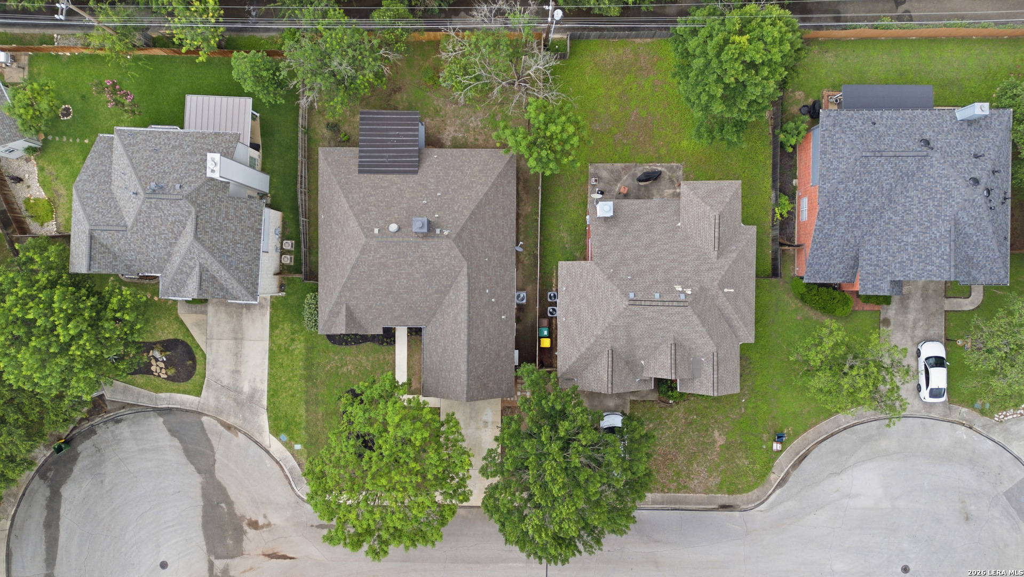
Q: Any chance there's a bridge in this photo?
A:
No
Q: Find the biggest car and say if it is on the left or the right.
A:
right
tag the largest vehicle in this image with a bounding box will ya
[915,340,949,402]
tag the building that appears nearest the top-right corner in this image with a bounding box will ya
[796,102,1013,295]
